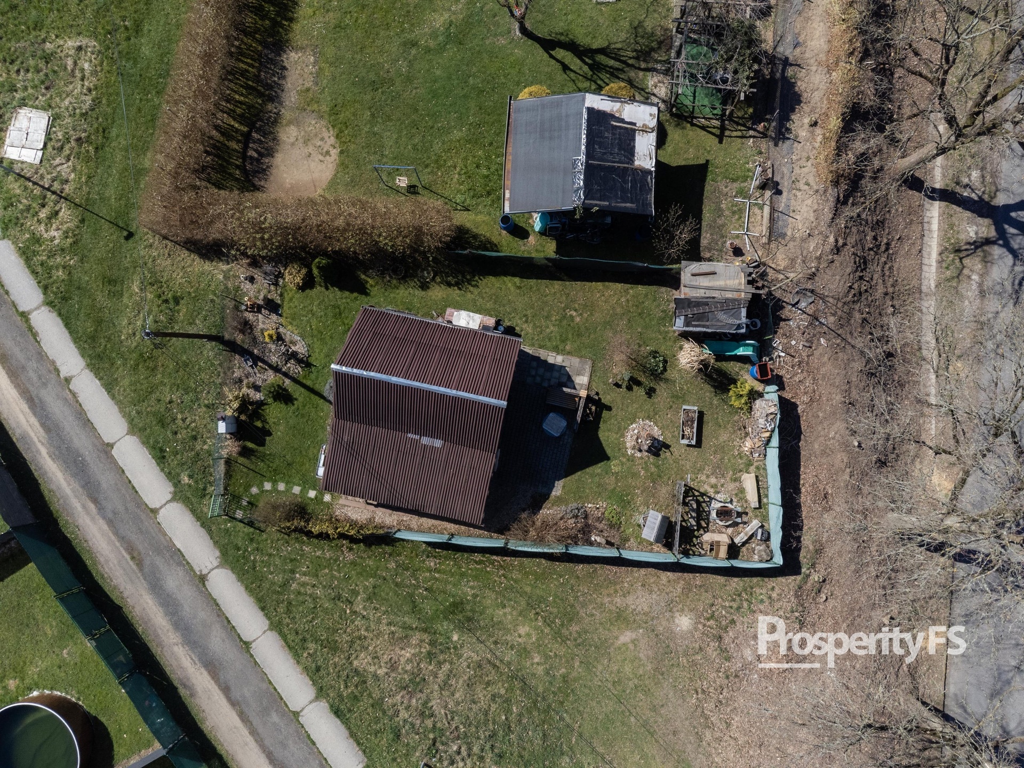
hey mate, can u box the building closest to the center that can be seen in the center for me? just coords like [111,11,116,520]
[322,301,525,526]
